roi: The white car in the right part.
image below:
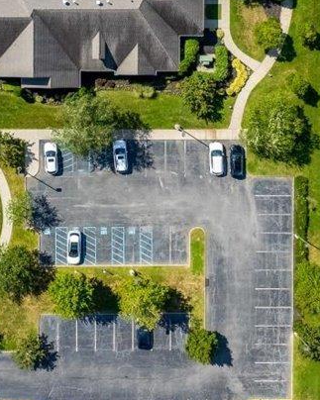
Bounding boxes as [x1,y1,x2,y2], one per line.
[210,143,223,175]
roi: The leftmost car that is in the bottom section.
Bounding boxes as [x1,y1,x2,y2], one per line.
[67,231,82,263]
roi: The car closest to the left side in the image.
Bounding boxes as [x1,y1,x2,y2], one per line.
[43,140,57,174]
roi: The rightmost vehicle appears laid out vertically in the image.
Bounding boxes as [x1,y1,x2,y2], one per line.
[230,145,243,177]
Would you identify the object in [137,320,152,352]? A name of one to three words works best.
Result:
car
